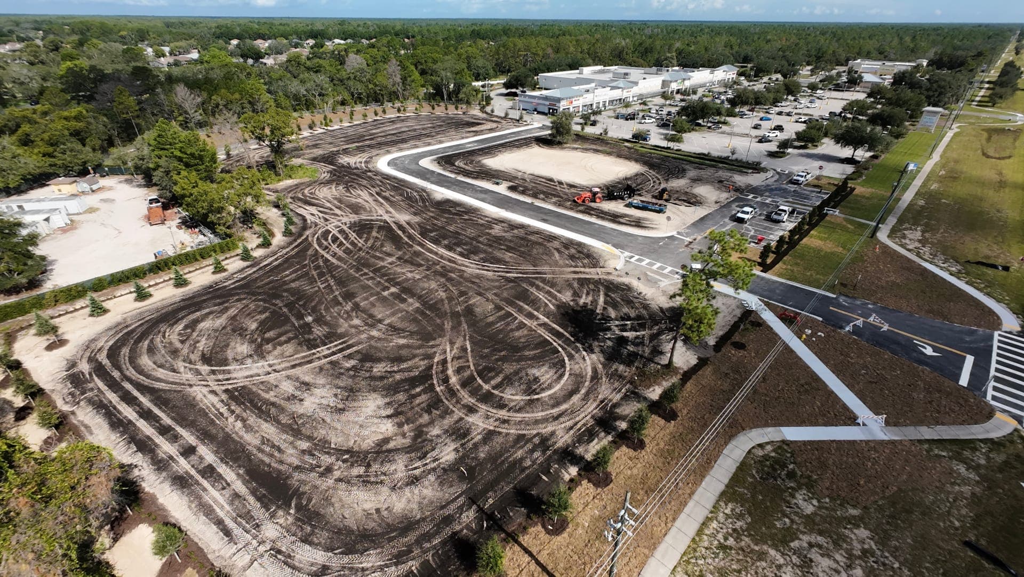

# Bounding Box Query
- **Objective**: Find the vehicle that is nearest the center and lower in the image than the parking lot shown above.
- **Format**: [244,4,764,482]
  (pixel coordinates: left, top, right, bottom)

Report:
[573,187,604,206]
